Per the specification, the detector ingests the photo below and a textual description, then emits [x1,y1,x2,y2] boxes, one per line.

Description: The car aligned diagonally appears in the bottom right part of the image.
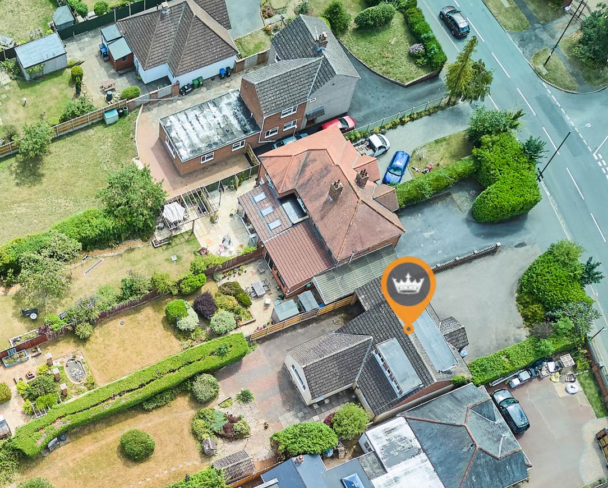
[489,386,536,439]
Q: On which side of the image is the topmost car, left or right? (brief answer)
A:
right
